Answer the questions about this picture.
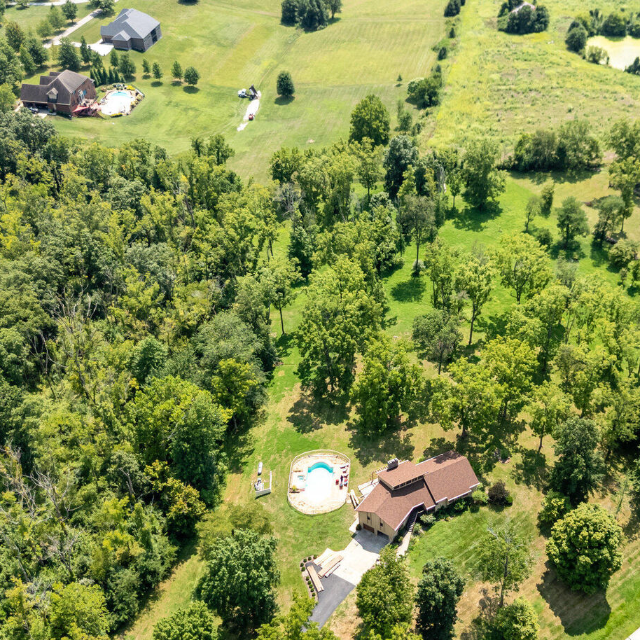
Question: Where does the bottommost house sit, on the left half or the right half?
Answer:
right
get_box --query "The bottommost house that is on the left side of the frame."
[20,70,97,117]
